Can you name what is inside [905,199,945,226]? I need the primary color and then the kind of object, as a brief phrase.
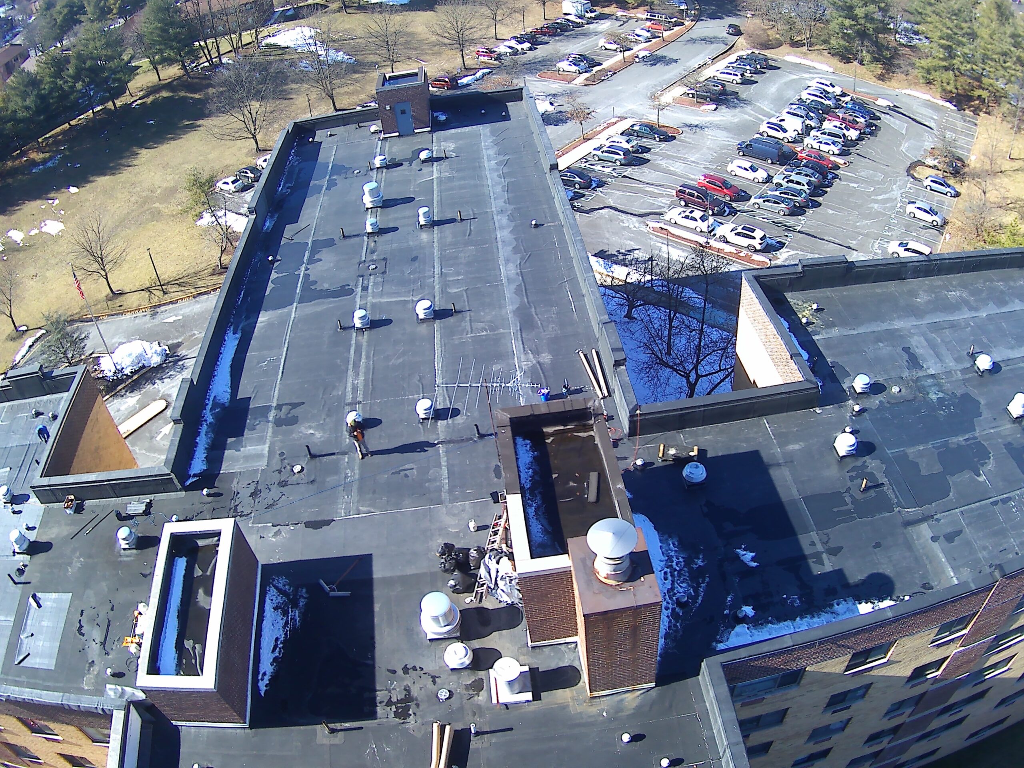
white car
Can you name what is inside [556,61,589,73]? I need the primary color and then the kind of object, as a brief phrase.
white vehicle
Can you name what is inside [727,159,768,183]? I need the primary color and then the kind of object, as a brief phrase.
white car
